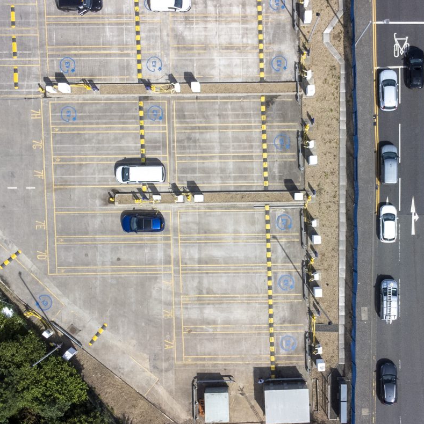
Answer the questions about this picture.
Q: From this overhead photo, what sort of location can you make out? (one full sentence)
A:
The picture captures a parking lot.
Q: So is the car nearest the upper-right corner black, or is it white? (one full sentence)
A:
The car nearest the upper-right corner is black.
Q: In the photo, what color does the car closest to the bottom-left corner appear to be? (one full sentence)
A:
From above, the car closest to the bottom-left corner appears blue.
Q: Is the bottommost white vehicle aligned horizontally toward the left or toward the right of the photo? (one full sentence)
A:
The bottommost white vehicle aligned horizontally appears in the left half of the scene.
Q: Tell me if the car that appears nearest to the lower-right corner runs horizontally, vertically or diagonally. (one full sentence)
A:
What the image shows is the car that appears nearest to the lower-right corner lying vertically.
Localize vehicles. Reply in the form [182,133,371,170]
[146,0,189,13]
[377,202,399,244]
[378,143,400,187]
[378,276,400,321]
[377,362,399,405]
[404,47,424,91]
[55,0,103,17]
[378,70,400,114]
[116,164,165,187]
[122,213,165,234]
